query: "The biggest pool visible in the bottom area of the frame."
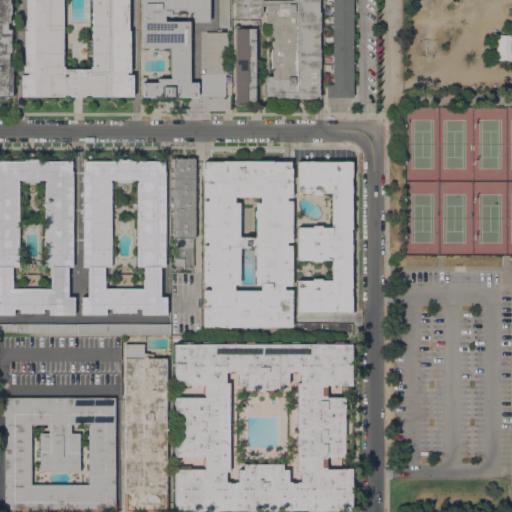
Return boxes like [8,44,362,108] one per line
[248,418,278,448]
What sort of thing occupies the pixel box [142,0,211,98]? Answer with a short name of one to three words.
building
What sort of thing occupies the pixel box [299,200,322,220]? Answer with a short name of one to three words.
swimming pool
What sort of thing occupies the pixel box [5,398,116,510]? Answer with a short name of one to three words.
building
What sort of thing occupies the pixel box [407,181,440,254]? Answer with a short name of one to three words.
tennis court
